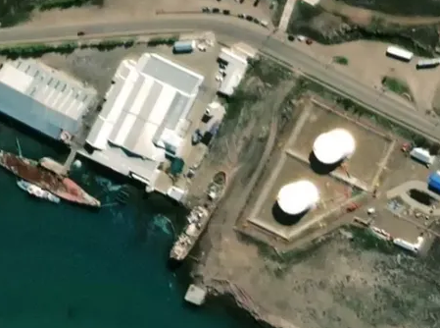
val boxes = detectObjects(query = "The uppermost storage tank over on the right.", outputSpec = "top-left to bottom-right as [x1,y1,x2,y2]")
[314,129,355,165]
